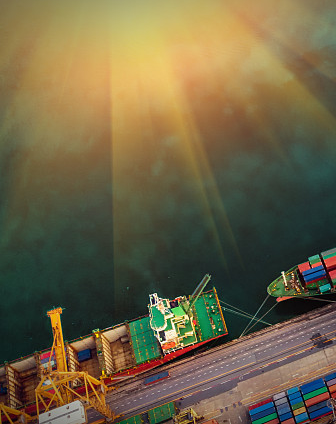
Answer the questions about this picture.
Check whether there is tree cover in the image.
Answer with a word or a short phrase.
No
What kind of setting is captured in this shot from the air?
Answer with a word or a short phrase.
port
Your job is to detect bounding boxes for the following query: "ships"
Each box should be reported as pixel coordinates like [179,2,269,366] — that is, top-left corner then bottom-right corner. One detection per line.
[0,263,228,420]
[266,253,336,299]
